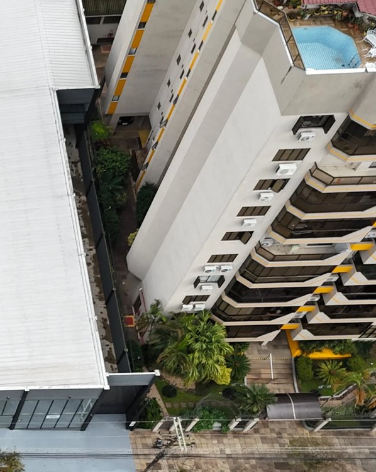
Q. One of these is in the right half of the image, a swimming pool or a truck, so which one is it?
swimming pool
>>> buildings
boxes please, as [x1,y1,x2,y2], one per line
[127,0,376,341]
[0,0,110,434]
